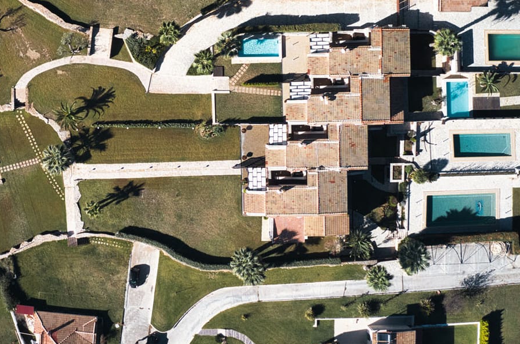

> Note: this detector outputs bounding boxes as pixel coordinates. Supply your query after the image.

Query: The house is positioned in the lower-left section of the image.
[34,309,98,344]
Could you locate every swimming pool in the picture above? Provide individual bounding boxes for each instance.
[451,130,516,161]
[424,190,500,233]
[445,79,472,120]
[485,30,520,64]
[239,35,283,59]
